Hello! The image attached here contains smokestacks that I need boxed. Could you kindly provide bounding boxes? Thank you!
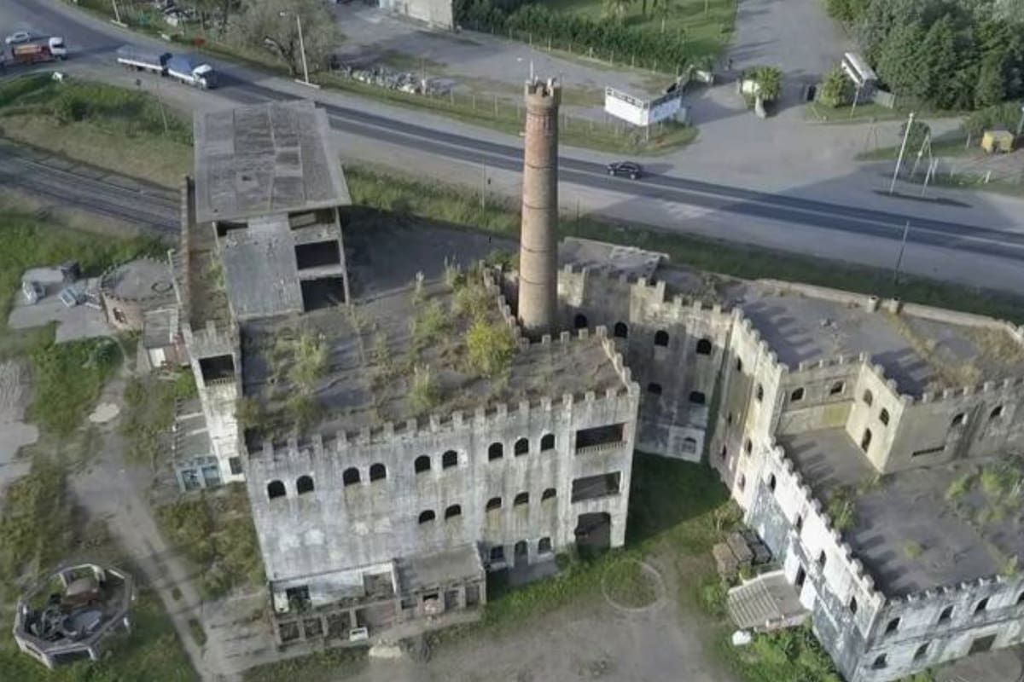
[511,55,561,344]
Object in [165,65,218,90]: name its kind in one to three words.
truck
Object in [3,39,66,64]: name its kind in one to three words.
truck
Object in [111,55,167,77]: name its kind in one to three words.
trailer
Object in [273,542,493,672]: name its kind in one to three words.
building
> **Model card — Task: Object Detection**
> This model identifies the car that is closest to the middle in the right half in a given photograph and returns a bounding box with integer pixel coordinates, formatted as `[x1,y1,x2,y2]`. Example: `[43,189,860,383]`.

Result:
[607,164,644,182]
